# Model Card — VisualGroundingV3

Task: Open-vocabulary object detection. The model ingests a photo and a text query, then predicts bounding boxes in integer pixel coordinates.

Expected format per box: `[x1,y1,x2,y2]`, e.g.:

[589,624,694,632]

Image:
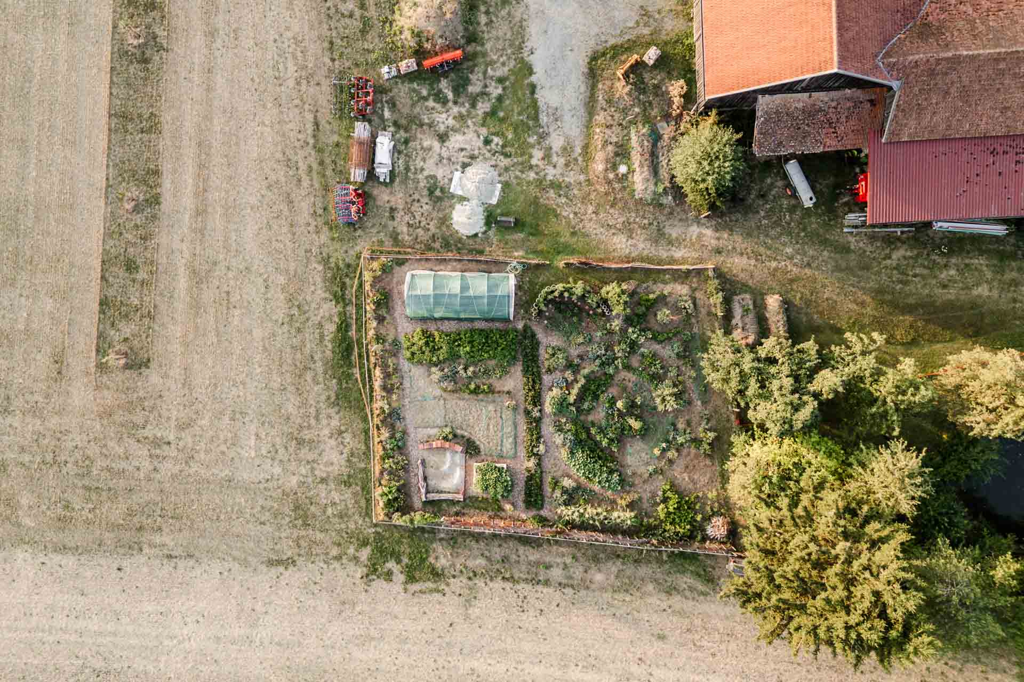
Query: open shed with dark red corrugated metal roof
[851,123,1024,226]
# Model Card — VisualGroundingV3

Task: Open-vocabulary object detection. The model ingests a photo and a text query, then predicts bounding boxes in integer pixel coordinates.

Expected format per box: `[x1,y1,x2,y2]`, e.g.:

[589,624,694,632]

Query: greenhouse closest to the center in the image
[399,268,516,321]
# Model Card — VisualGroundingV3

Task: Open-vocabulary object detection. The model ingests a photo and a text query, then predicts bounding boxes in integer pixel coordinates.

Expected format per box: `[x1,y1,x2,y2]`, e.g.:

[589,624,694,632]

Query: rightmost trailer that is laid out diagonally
[775,154,817,209]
